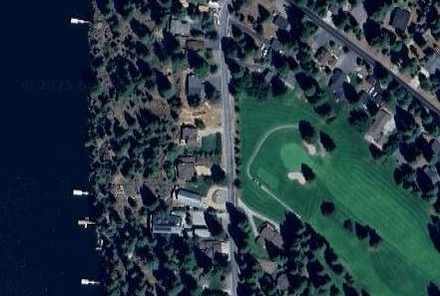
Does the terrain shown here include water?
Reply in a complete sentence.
Yes, water shows up in the scene.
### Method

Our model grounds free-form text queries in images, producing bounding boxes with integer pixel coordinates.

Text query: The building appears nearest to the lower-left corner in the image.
[152,213,187,234]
